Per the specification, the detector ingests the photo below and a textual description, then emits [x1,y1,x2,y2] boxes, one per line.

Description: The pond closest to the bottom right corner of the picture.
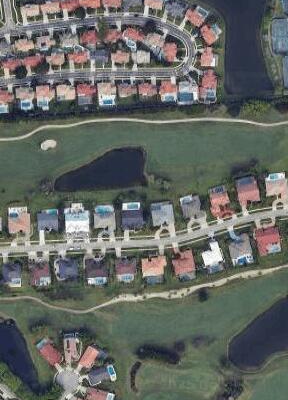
[228,296,288,369]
